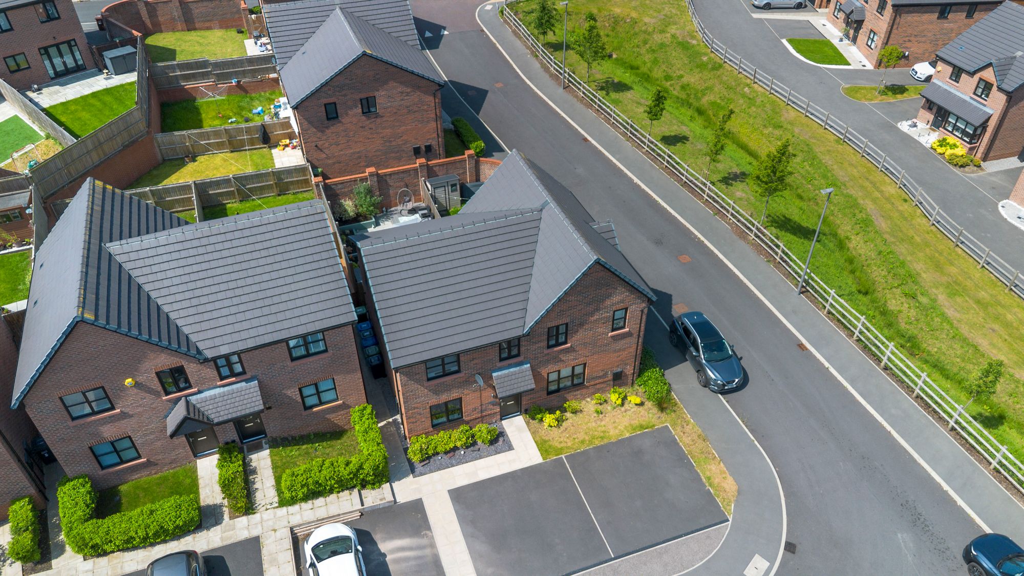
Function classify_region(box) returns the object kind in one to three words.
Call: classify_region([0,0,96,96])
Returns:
house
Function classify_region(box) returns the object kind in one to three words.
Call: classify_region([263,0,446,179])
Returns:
house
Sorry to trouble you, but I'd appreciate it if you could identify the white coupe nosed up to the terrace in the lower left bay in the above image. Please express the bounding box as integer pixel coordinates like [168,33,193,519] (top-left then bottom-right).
[299,517,370,576]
